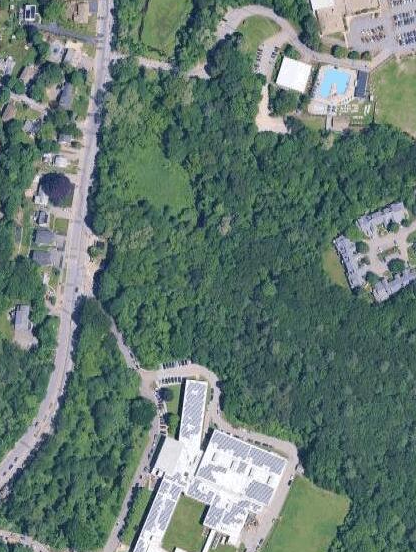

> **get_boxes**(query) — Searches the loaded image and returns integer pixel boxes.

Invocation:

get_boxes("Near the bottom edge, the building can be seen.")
[135,380,287,552]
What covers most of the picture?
trees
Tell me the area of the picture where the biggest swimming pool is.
top right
